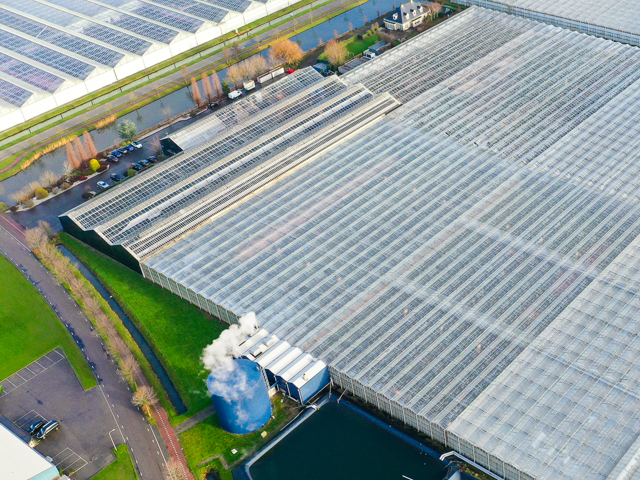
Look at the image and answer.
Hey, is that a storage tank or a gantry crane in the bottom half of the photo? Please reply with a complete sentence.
It is a storage tank that can be seen in the bottom half of the photo.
